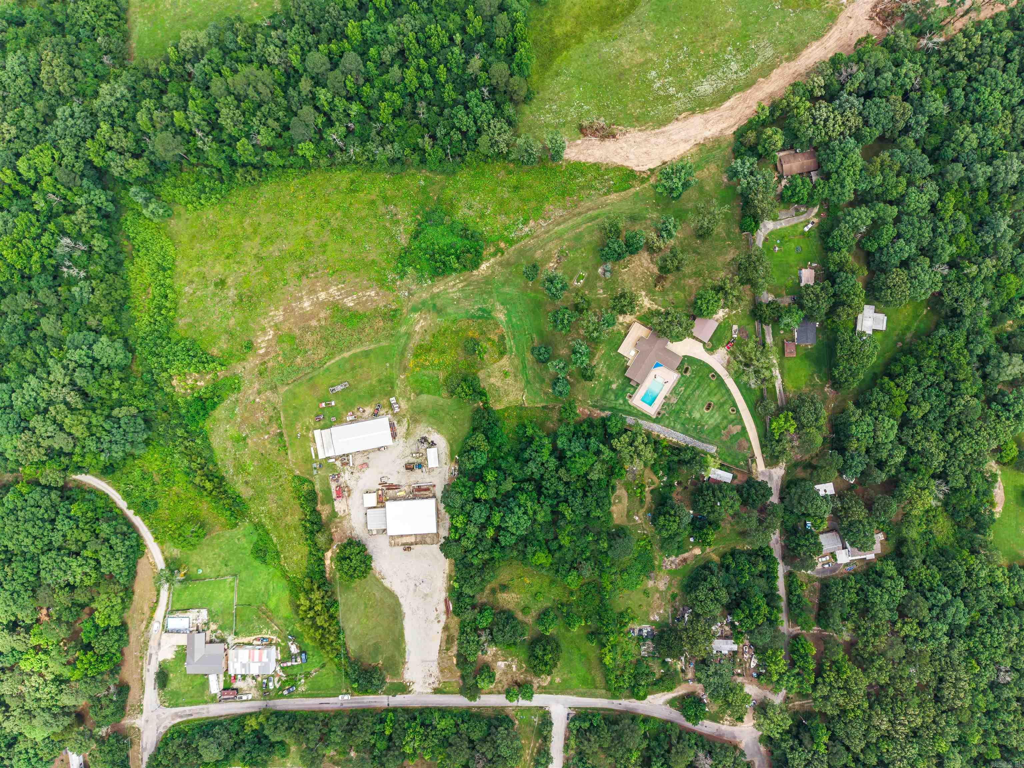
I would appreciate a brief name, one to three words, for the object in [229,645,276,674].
barn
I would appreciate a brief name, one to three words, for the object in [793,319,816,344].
house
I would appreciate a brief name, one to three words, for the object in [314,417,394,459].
building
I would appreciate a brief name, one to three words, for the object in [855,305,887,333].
house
